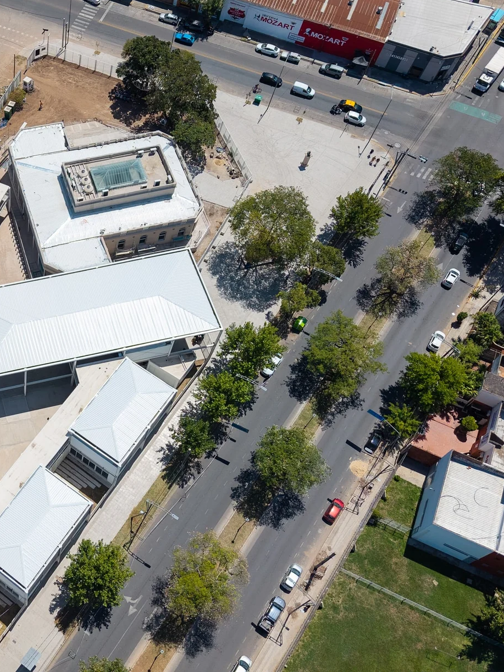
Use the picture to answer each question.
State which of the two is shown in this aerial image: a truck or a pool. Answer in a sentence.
The one in the frame is a truck.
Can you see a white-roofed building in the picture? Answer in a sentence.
Yes, I can see a white-roofed building in this picture.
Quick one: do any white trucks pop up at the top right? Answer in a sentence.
Yes, there is a white truck at the top right.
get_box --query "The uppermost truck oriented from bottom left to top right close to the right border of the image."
[472,46,504,96]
